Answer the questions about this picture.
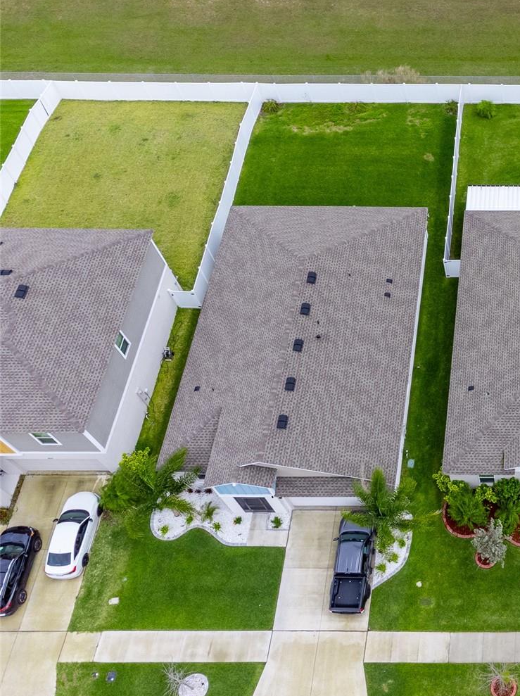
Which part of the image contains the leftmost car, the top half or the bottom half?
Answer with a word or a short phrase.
bottom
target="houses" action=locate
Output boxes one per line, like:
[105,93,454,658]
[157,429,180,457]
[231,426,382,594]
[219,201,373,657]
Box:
[161,207,429,516]
[0,232,178,508]
[441,210,520,489]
